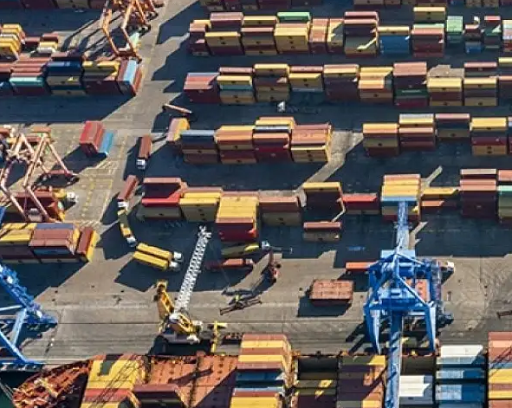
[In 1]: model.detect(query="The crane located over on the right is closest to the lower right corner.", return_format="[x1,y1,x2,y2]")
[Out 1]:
[367,197,445,408]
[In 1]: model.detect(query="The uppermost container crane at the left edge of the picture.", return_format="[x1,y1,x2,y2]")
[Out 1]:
[6,130,73,221]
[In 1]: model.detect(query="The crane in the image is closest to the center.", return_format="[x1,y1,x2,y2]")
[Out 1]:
[152,225,222,358]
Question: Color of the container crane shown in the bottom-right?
blue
